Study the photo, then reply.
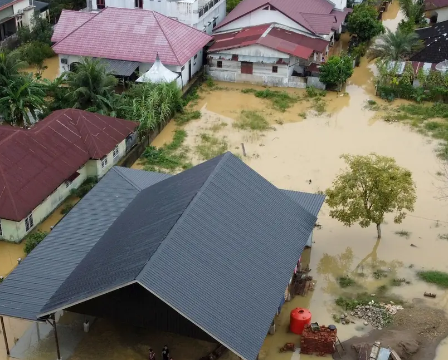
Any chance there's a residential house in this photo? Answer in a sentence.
Yes, there's a residential house down there.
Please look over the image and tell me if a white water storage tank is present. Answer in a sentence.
No, the scene contains no white water storage tank.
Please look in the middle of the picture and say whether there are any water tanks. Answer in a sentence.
No, no water tank appears in the middle of the picture.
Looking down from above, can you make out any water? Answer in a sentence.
Yes, there's water in this view.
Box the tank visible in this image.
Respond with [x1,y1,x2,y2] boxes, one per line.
[288,307,312,337]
